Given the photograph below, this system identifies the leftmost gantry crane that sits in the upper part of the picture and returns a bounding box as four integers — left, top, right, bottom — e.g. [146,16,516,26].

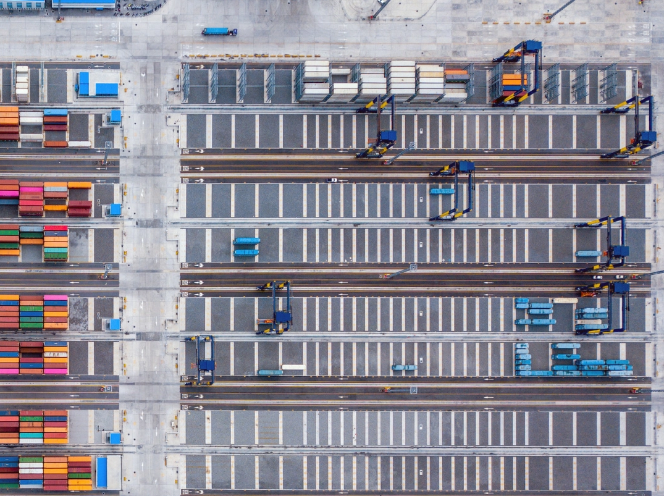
[358,93,398,157]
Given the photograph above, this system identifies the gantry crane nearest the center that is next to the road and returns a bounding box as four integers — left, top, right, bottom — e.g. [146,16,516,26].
[258,280,291,335]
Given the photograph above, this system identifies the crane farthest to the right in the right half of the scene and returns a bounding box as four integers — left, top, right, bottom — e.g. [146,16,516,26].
[604,93,658,157]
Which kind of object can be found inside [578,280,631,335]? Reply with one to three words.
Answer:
container crane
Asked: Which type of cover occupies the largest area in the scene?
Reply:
paved ground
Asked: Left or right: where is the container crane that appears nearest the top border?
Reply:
right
